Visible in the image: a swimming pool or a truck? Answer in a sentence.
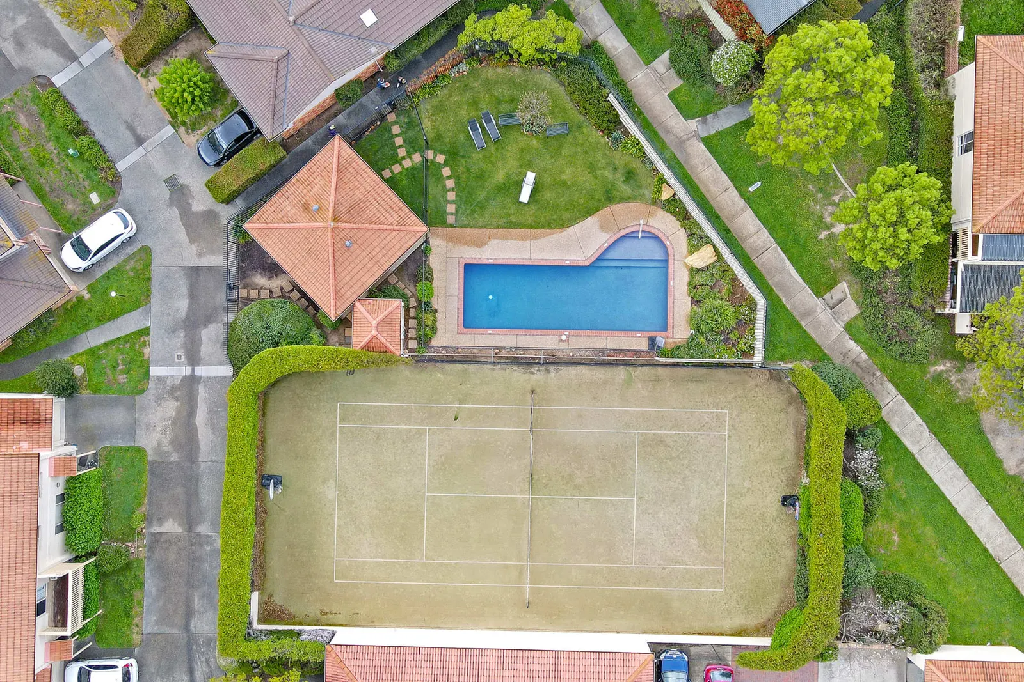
The one in the frame is a swimming pool.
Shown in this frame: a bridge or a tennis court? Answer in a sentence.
Looking from above, you can make out a tennis court.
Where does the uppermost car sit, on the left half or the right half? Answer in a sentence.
It is on the left.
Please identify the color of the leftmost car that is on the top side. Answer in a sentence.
The color of the leftmost car that is on the top side is white.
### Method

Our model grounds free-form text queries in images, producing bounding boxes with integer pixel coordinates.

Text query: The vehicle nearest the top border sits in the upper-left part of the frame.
[193,107,264,166]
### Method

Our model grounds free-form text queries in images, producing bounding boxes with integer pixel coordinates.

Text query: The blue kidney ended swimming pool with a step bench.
[464,231,668,331]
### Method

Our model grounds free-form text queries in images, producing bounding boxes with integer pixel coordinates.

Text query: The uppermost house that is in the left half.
[185,0,457,149]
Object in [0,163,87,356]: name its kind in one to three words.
house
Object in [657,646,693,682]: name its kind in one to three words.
car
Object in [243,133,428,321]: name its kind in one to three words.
building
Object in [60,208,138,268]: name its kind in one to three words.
car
